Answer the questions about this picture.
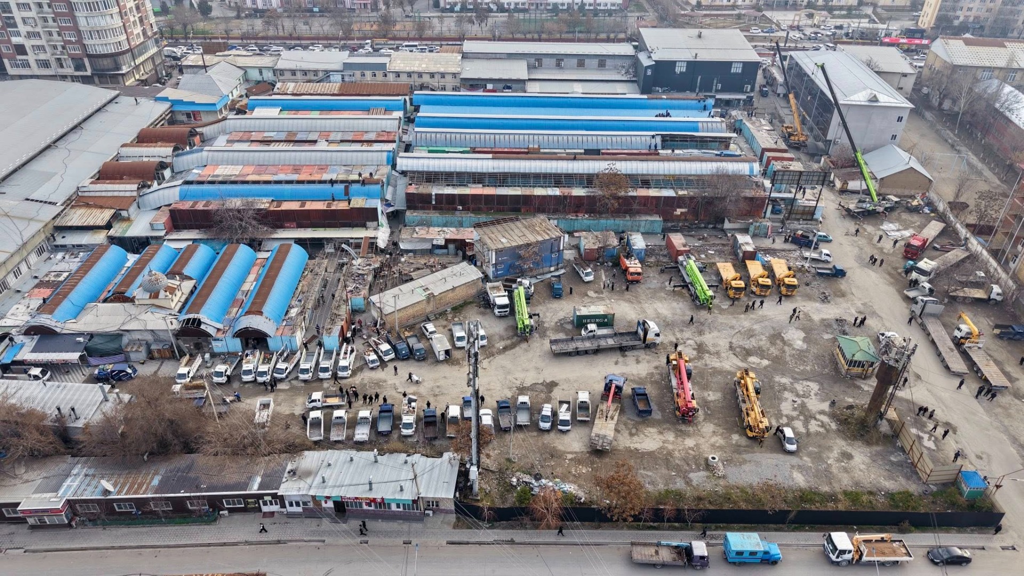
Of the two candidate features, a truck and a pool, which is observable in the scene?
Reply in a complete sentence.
Of the two, only a truck appears.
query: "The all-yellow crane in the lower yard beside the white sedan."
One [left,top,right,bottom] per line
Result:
[730,355,773,444]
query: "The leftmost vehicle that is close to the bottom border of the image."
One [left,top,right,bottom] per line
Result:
[628,528,715,568]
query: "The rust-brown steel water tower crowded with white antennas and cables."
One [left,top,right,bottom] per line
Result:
[863,324,926,423]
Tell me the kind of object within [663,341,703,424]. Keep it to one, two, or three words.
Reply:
crane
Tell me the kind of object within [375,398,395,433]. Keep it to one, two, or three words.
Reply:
vehicle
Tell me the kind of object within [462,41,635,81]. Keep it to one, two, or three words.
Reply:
building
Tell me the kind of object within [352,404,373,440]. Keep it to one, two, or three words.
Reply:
truck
